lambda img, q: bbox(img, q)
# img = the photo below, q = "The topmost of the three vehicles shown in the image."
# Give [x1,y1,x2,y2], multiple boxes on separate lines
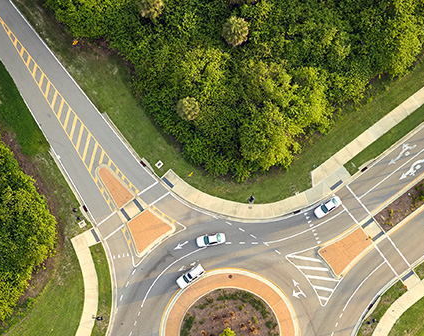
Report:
[314,196,343,219]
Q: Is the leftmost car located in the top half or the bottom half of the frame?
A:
bottom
